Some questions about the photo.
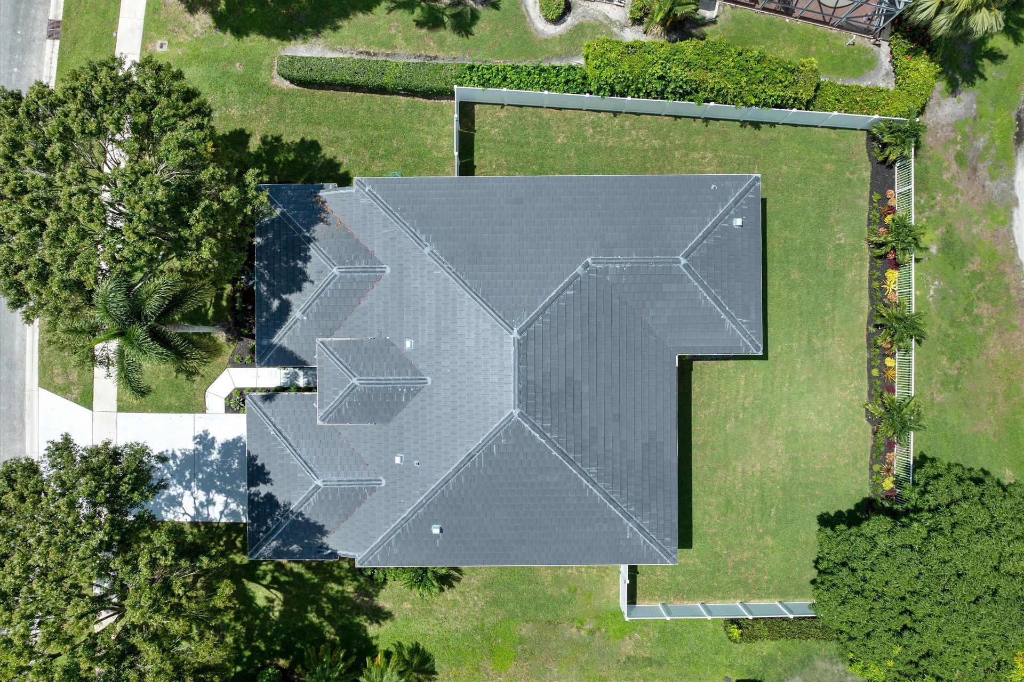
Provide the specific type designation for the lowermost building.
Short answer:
house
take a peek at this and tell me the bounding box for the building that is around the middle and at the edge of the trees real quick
[244,173,764,568]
